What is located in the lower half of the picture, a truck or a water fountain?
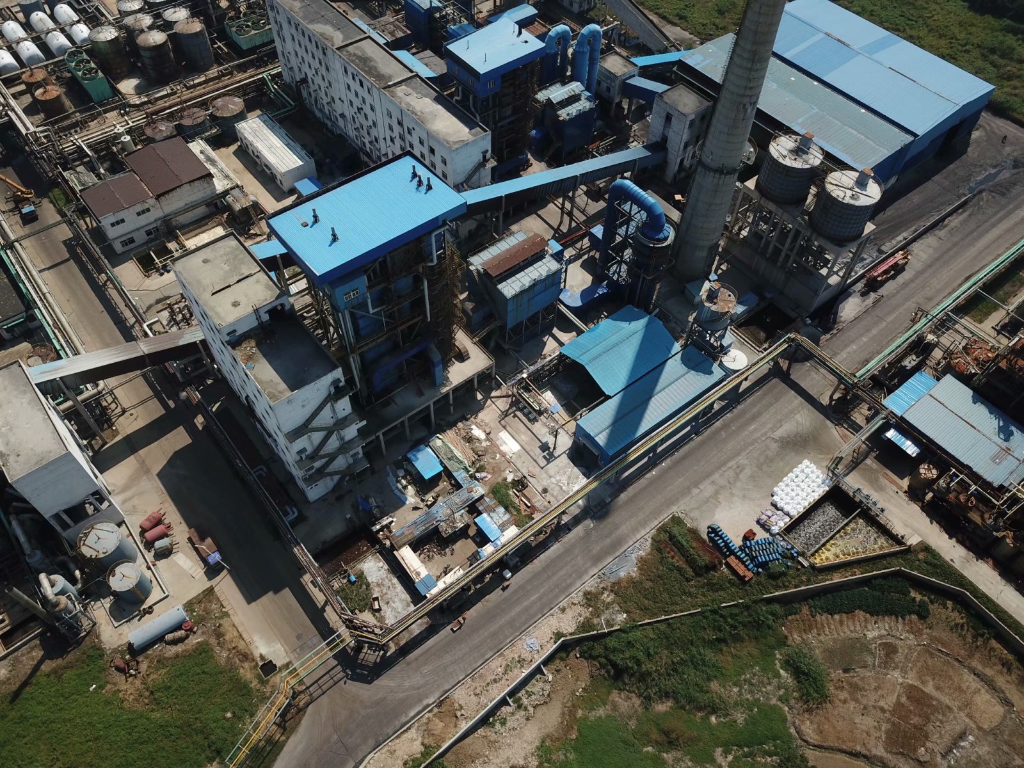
truck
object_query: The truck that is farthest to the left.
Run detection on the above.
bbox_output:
[186,519,229,577]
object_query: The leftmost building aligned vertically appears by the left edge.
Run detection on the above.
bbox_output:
[0,272,32,344]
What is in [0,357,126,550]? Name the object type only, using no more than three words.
building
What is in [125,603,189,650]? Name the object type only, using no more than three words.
storage tank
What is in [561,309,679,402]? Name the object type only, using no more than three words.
shed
